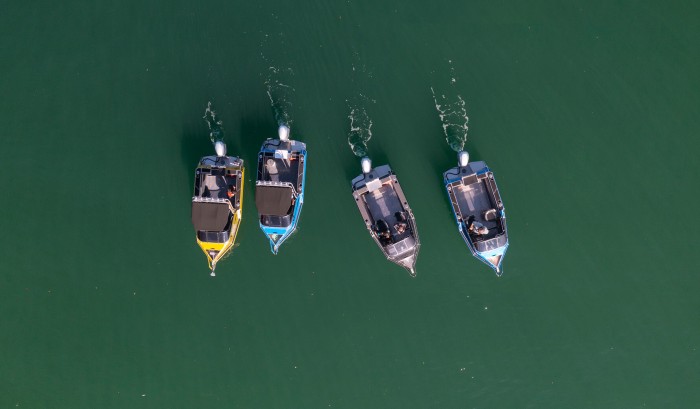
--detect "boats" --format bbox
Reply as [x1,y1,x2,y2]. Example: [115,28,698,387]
[191,140,245,275]
[444,150,509,276]
[254,122,306,256]
[351,155,418,277]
